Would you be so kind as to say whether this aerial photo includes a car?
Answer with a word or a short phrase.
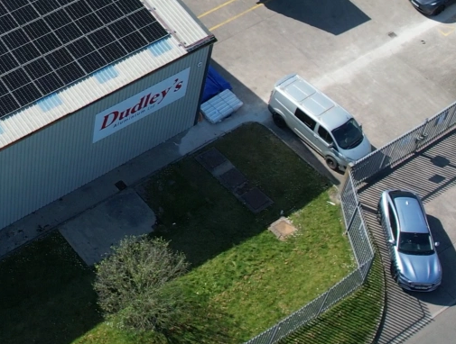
Yes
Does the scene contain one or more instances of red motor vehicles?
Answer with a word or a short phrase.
No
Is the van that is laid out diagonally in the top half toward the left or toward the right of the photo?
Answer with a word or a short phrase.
right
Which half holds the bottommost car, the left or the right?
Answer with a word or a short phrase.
right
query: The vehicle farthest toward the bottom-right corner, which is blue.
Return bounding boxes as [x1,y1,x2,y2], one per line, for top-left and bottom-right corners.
[370,191,443,299]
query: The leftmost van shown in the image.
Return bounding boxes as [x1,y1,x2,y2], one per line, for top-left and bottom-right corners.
[267,71,375,177]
